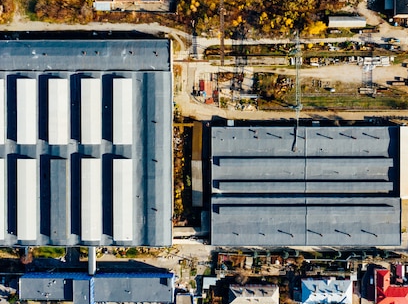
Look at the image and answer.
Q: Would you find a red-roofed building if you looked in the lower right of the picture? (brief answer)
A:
Yes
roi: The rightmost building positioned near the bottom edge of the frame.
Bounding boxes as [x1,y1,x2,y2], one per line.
[372,267,408,304]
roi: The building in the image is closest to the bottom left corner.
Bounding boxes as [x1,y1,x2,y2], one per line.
[19,273,76,300]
